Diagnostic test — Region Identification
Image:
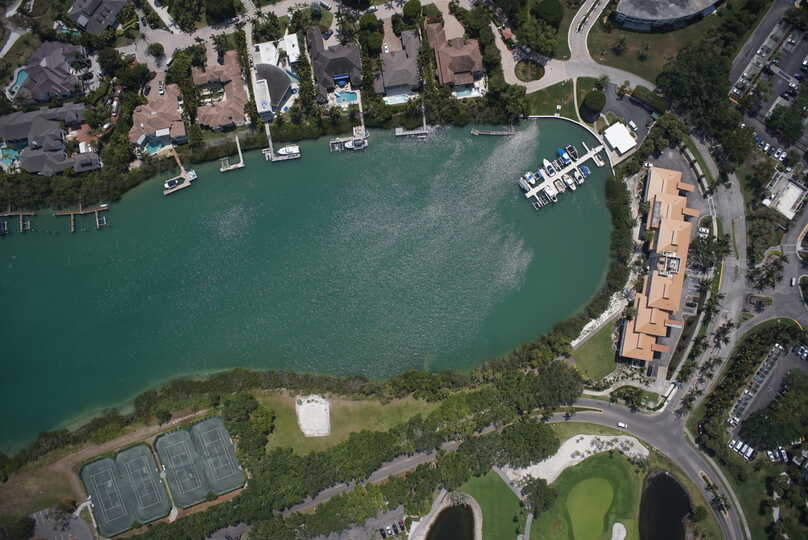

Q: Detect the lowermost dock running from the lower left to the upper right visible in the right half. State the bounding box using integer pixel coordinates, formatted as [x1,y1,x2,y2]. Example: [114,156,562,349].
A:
[522,141,604,207]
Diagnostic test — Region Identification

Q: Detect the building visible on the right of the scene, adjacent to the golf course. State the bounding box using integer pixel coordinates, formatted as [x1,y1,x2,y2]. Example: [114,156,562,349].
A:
[617,167,700,361]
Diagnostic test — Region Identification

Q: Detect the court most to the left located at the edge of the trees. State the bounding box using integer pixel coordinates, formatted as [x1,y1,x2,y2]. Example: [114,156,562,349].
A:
[81,459,139,537]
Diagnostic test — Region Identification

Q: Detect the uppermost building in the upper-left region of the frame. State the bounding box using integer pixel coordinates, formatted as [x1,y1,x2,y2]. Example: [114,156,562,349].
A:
[64,0,140,36]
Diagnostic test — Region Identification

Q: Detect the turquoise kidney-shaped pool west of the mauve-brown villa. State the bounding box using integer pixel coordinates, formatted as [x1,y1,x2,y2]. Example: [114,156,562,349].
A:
[10,69,28,92]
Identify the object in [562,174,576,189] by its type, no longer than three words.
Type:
boat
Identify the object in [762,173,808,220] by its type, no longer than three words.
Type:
building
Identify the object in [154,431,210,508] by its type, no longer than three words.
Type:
tennis court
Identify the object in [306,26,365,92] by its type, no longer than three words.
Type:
house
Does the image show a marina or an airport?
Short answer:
marina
